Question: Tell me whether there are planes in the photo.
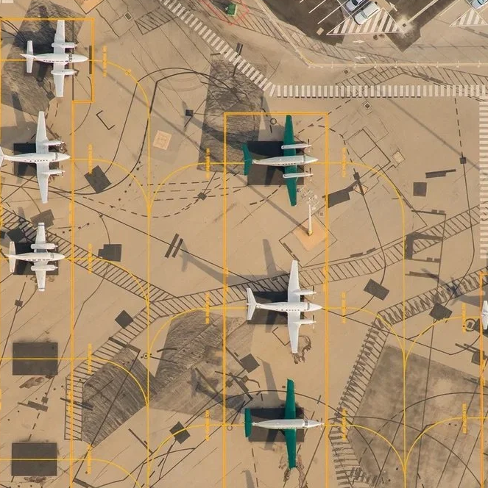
Yes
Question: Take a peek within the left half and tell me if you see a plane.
Yes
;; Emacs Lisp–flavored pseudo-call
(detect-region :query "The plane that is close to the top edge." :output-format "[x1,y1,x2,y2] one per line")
[19,22,88,94]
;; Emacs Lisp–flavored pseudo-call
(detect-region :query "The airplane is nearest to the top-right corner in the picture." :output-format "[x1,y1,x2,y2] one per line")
[242,117,318,204]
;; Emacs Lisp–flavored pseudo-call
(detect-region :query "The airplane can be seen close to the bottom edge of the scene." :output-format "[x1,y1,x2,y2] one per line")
[242,378,322,469]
